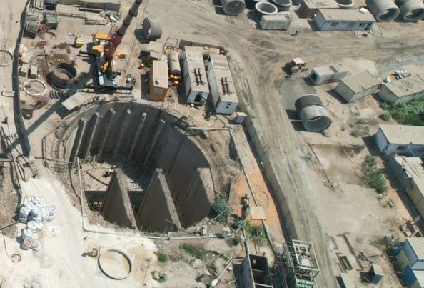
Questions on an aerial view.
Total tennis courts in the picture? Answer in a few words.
0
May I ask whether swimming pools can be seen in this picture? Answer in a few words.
No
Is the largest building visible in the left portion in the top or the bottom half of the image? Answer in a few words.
top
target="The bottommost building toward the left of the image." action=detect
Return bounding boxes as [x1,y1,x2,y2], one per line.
[144,58,168,102]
